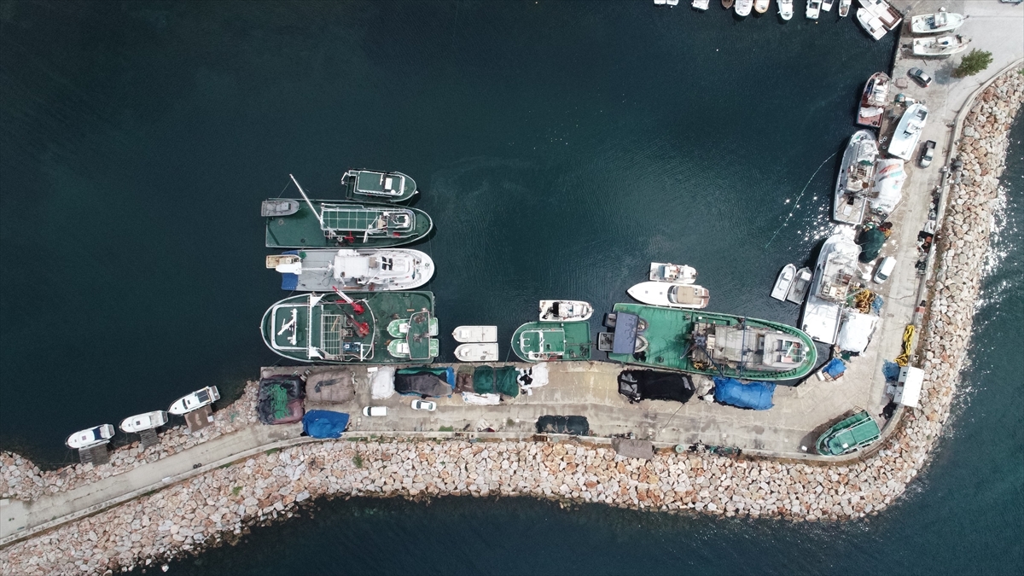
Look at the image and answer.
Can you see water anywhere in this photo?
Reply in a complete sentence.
Yes, there is water in the image.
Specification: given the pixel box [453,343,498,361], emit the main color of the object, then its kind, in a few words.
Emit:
white boat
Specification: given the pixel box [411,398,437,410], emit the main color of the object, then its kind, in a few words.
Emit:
white vehicle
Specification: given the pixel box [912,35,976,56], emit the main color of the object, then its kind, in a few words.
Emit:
white boat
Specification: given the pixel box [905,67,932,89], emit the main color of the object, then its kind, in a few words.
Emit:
gray car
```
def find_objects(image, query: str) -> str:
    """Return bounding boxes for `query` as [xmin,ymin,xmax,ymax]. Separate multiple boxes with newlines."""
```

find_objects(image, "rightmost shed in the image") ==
[892,366,924,407]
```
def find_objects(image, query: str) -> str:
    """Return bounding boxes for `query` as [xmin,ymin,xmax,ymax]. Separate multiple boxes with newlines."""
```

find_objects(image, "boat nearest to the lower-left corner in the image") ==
[64,420,123,449]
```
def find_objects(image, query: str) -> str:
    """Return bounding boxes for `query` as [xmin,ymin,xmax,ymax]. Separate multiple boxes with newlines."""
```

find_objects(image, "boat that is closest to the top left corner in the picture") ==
[261,200,300,216]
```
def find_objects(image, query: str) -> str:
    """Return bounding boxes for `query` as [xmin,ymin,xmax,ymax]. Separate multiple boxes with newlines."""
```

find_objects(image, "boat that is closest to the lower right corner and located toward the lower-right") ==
[816,406,880,454]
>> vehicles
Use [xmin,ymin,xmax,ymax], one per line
[411,398,437,410]
[363,405,389,417]
[918,140,937,169]
[873,256,898,284]
[905,67,932,89]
